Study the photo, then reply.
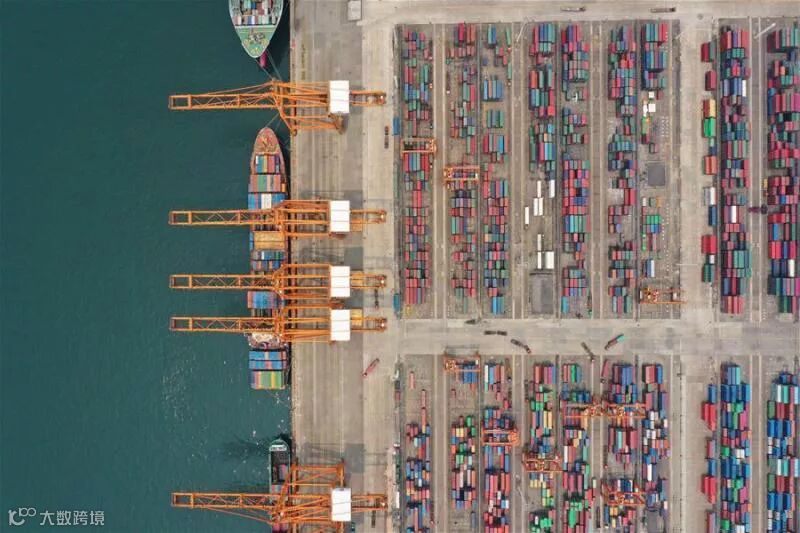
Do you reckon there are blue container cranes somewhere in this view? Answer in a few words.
No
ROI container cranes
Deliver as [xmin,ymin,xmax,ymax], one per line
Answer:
[601,396,647,418]
[168,299,385,345]
[443,166,482,186]
[522,448,566,474]
[601,479,648,507]
[480,421,520,445]
[560,396,603,418]
[400,138,438,159]
[168,460,385,533]
[638,285,695,304]
[168,191,385,237]
[168,72,385,134]
[443,352,482,372]
[168,258,385,300]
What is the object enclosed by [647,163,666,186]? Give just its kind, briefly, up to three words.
shed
